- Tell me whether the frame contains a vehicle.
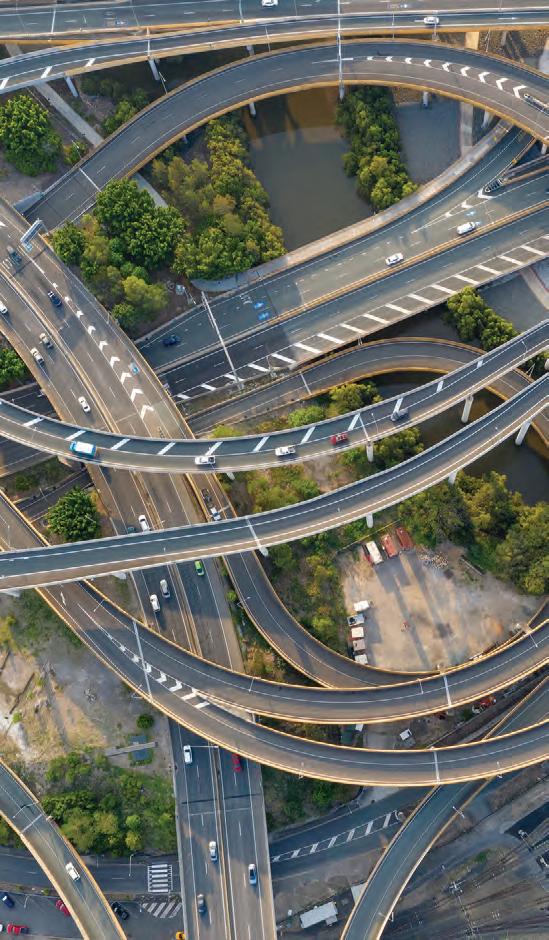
Yes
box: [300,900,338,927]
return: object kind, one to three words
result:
shed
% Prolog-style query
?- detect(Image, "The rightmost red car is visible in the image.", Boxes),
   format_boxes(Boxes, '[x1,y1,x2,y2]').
[477,694,495,709]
